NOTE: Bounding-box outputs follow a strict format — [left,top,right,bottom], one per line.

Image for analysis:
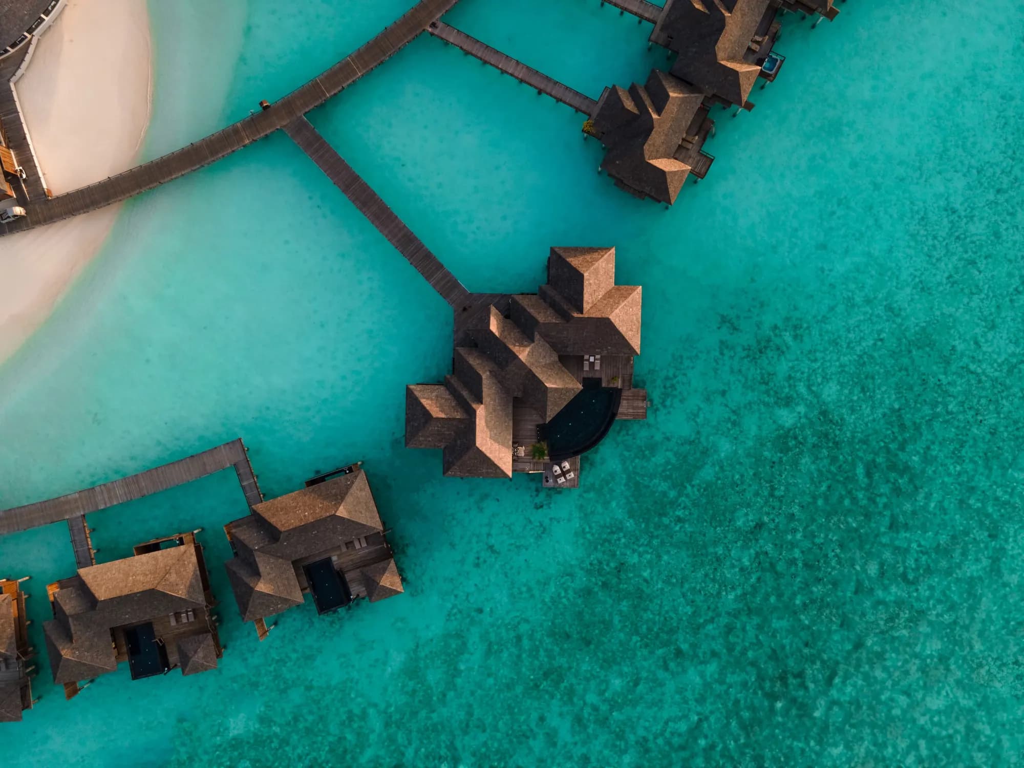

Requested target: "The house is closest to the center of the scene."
[405,245,649,488]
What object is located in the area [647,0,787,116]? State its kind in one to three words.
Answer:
house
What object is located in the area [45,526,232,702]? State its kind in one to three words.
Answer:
house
